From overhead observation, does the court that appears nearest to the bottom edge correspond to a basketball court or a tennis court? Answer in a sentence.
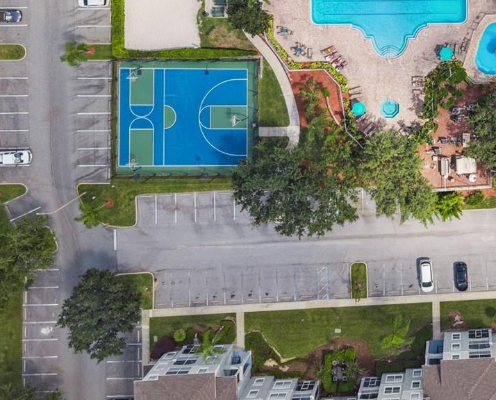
The court that appears nearest to the bottom edge appears to be a basketball court.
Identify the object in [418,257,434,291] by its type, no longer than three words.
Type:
car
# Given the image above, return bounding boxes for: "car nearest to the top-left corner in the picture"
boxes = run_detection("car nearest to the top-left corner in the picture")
[0,9,23,23]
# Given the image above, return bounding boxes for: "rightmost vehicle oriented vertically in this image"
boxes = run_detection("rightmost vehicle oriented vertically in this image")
[454,260,468,289]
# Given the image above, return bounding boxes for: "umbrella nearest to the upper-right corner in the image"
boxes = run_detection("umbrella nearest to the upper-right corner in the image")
[438,44,455,61]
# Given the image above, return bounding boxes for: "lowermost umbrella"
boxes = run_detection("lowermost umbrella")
[352,101,367,116]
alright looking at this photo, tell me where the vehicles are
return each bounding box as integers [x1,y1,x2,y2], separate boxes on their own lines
[0,9,23,23]
[0,150,31,167]
[454,260,468,289]
[81,0,110,9]
[418,257,434,291]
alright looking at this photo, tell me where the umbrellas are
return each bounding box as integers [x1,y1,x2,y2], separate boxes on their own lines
[352,101,367,116]
[438,44,455,61]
